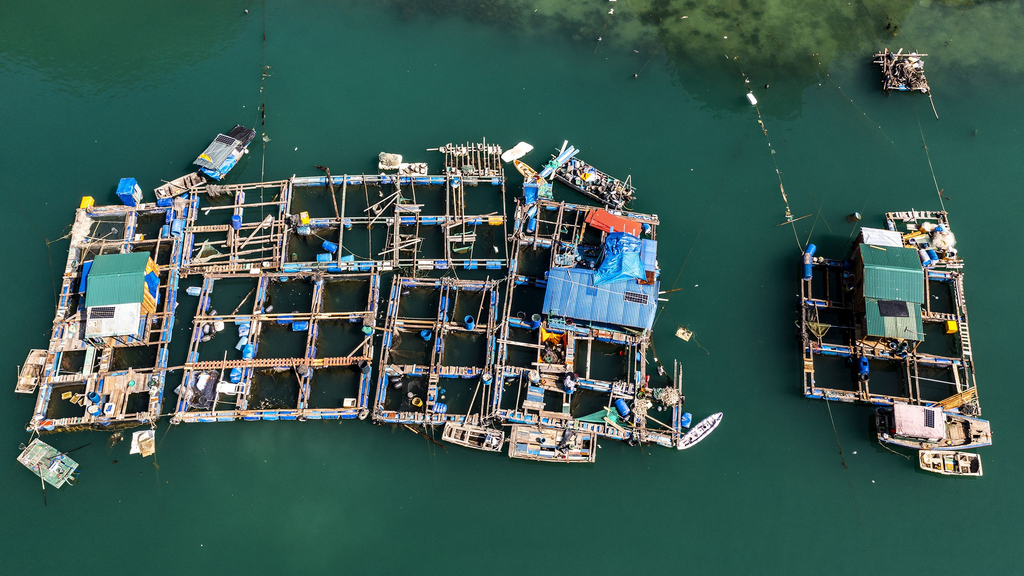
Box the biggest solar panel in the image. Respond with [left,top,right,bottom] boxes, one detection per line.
[879,301,909,317]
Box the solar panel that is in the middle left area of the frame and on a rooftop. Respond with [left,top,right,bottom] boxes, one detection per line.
[90,306,115,319]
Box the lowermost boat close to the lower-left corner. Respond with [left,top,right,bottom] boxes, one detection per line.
[18,439,92,506]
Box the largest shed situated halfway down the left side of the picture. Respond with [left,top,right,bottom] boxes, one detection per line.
[77,252,161,351]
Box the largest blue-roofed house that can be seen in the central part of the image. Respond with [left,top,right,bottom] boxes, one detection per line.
[542,224,660,339]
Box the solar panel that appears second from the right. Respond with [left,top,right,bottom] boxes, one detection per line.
[624,291,648,304]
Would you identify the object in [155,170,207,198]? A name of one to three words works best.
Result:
boat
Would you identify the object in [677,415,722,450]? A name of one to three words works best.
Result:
boat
